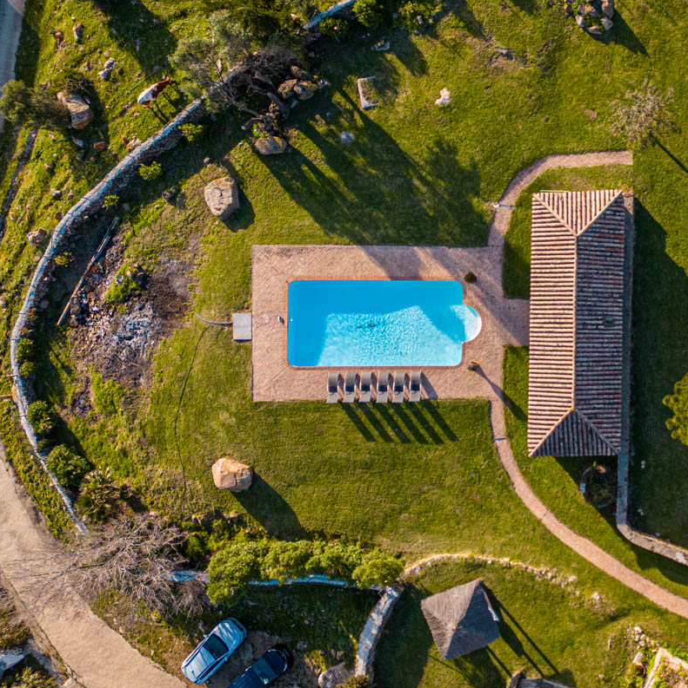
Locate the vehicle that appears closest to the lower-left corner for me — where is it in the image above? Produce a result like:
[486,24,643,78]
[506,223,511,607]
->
[178,613,251,687]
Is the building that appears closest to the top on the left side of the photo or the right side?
right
